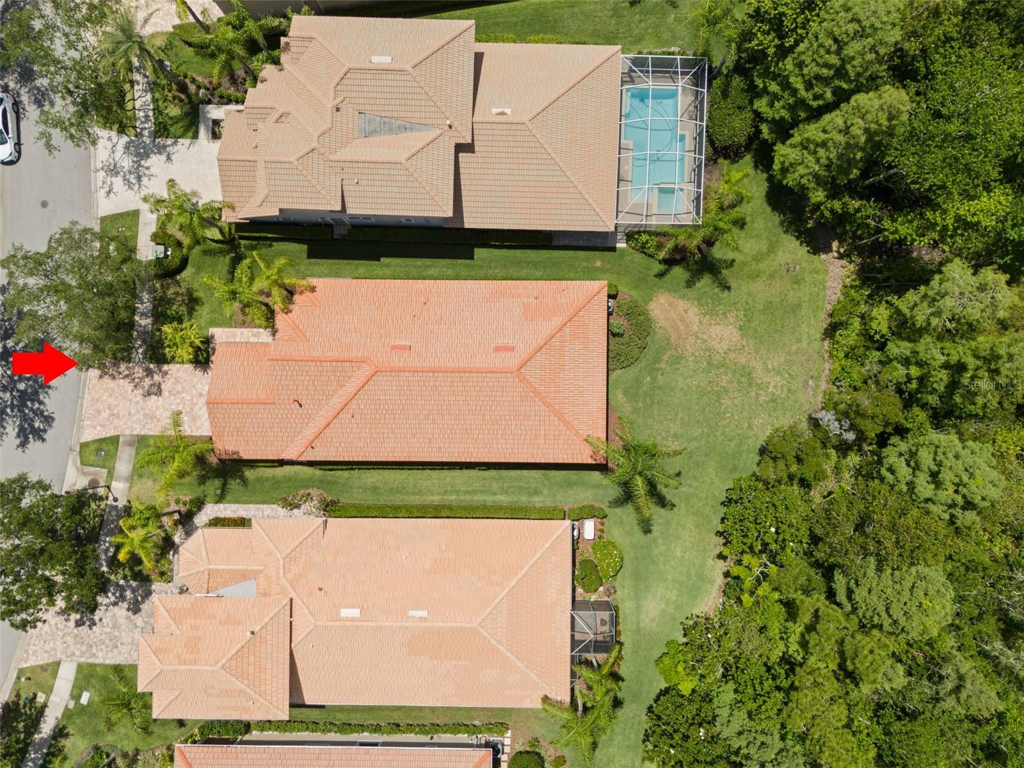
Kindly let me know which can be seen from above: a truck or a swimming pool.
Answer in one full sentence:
Visible in the photo is a swimming pool.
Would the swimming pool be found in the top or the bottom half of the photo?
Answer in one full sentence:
The swimming pool is in the top half of the image.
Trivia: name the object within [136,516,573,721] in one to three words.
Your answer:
house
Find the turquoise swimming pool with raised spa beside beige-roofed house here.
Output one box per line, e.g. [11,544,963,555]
[620,83,690,217]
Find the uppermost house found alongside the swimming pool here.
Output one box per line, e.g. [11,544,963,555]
[216,15,623,234]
